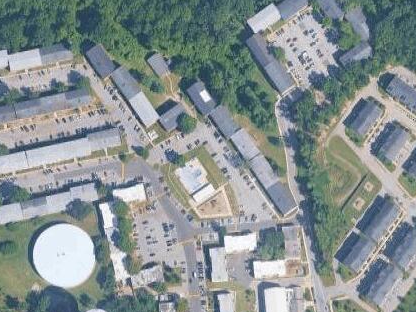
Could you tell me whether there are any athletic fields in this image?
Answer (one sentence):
No, I can't see a single athletic field in this photo.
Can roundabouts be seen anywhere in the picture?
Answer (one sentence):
No, the scene contains no roundabout.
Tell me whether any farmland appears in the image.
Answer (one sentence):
No, no farmland is visible.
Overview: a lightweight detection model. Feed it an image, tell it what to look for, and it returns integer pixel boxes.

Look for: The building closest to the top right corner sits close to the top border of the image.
[347,8,370,40]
